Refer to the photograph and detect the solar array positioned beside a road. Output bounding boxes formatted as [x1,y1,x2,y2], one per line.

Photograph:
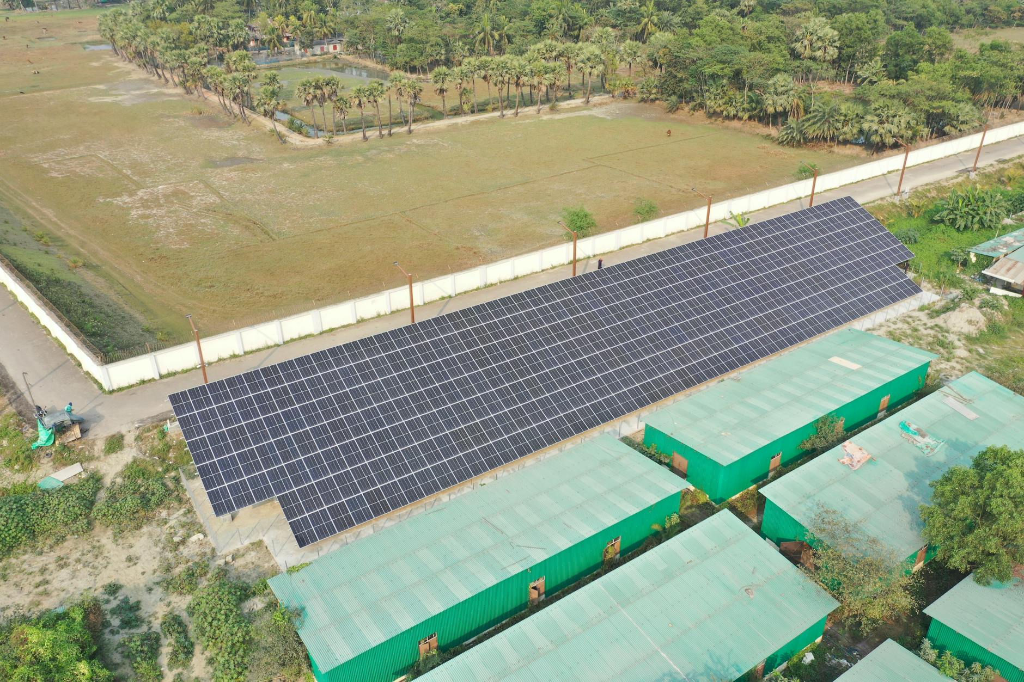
[167,196,923,550]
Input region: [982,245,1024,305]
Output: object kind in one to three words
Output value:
shed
